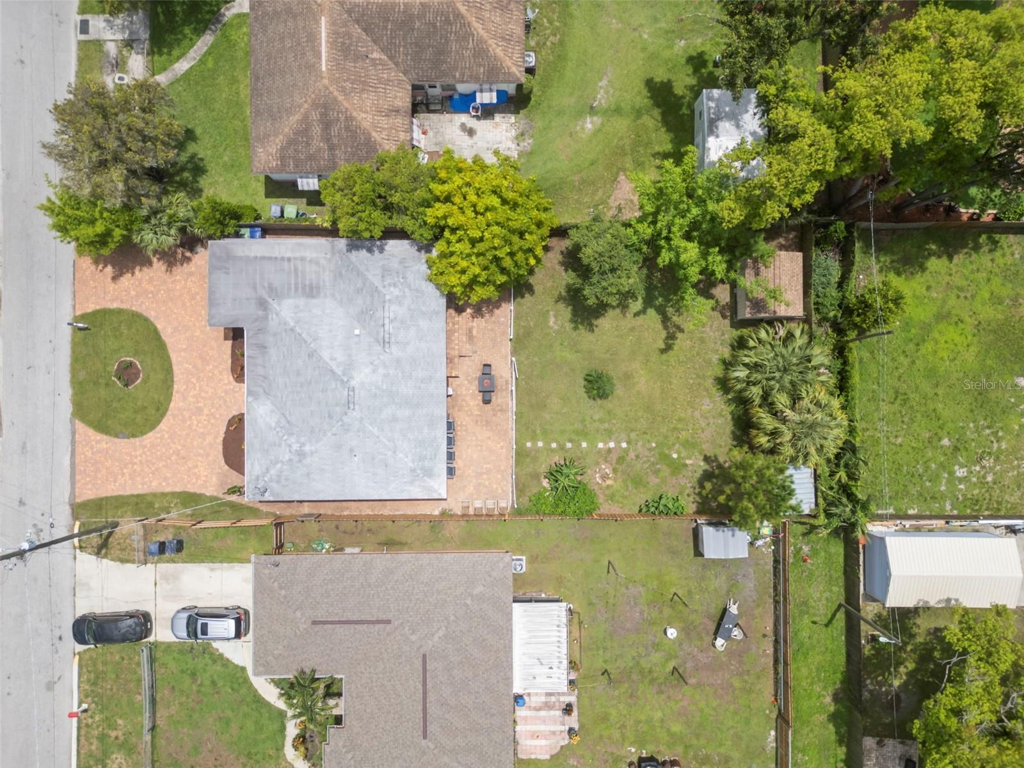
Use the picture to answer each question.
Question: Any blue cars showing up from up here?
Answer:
No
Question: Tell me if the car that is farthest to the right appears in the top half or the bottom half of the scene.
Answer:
bottom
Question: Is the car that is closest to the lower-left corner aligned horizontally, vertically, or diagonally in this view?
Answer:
horizontally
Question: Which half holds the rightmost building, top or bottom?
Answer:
bottom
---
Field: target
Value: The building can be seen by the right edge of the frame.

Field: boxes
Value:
[864,530,1024,608]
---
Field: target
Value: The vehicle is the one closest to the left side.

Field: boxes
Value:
[74,608,155,648]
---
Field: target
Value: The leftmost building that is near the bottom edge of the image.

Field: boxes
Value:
[251,551,515,768]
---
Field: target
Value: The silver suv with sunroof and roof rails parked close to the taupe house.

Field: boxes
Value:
[173,605,252,643]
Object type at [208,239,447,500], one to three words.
house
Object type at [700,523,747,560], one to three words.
shed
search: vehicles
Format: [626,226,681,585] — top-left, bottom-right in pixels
[173,605,252,643]
[74,608,155,648]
